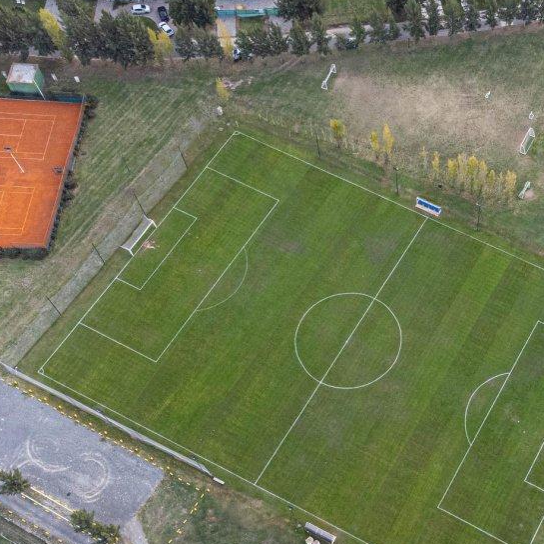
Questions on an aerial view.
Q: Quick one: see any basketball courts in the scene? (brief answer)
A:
No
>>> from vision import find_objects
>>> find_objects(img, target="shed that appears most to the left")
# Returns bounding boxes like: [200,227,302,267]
[6,62,44,94]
